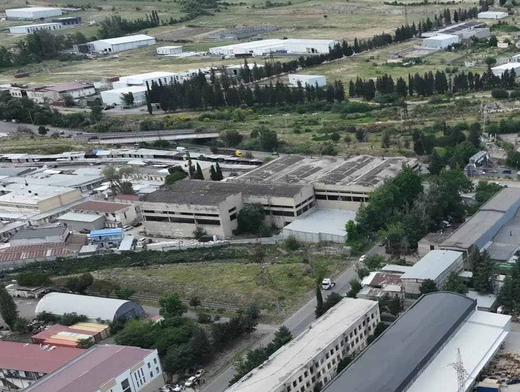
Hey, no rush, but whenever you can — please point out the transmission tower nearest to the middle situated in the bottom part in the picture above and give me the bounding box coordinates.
[240,212,273,285]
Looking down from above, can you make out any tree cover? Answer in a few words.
Yes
